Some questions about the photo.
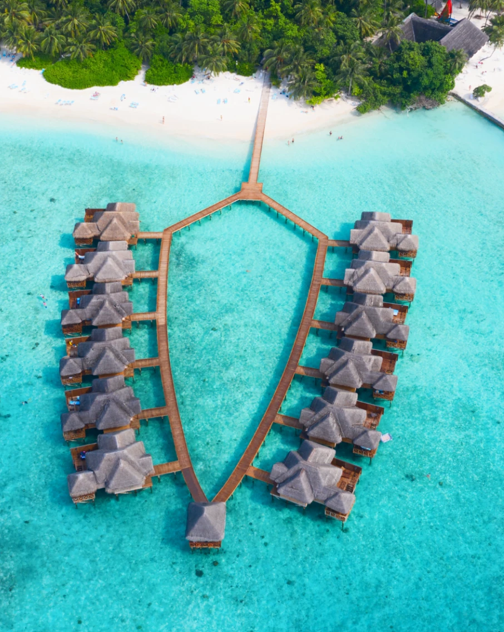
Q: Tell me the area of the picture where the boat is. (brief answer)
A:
top right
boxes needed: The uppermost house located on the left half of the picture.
[72,201,141,257]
